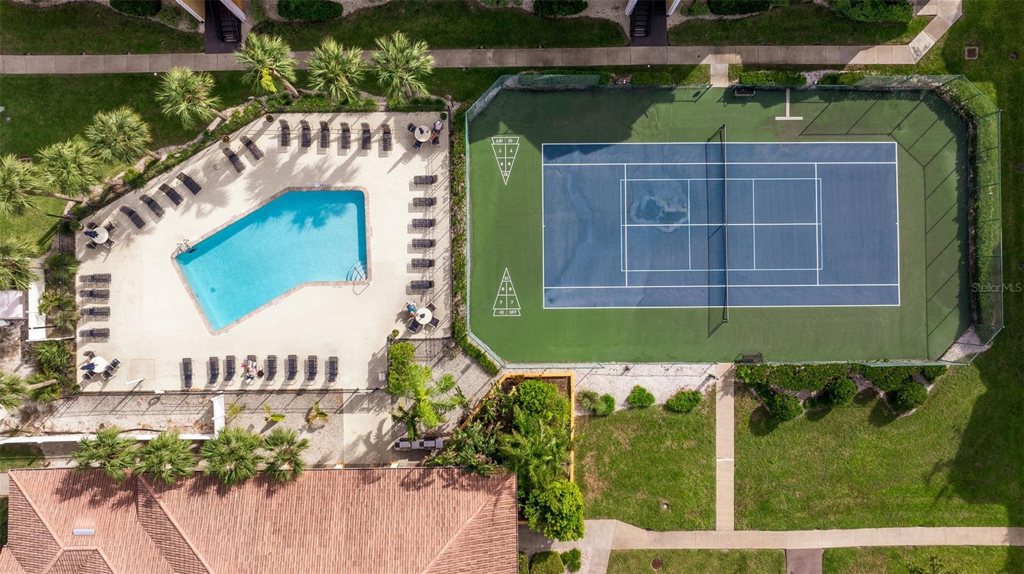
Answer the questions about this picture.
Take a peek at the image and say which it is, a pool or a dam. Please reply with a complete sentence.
The one in the frame is a pool.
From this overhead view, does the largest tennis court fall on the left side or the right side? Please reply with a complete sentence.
You can find the largest tennis court on the right side of the picture.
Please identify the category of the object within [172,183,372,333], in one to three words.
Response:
swimming pool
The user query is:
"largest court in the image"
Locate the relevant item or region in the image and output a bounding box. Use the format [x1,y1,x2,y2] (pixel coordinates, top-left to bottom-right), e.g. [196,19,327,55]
[470,87,971,363]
